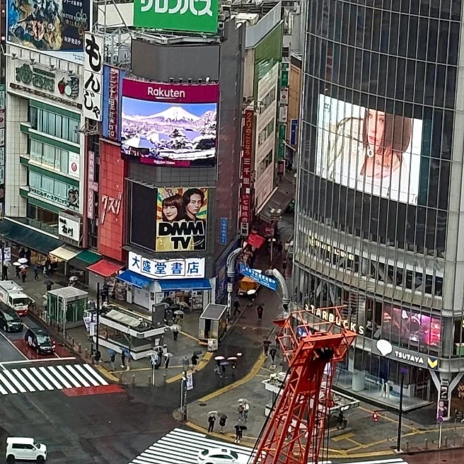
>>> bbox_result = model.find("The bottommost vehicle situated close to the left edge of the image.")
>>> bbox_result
[4,436,49,463]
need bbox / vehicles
[0,273,32,309]
[0,299,28,330]
[22,325,60,352]
[4,436,49,463]
[194,445,252,464]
